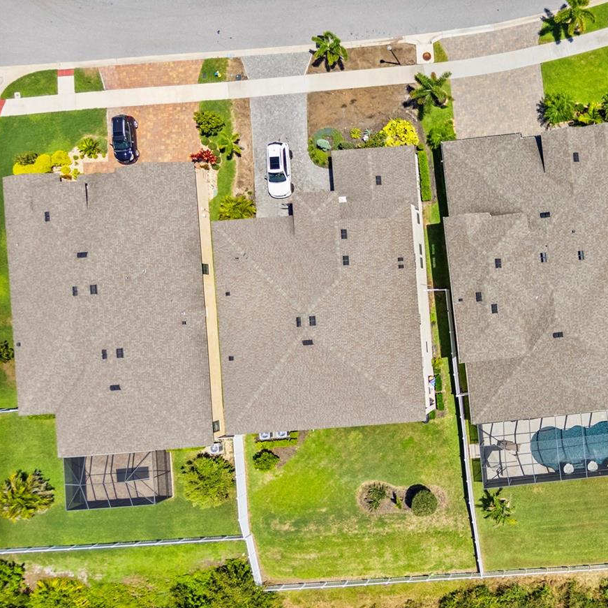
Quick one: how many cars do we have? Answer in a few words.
2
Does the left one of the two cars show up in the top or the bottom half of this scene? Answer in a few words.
top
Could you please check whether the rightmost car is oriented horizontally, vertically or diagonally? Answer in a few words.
vertically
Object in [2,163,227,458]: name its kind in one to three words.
house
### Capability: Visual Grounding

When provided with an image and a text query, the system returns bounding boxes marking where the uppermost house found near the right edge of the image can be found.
[441,127,608,425]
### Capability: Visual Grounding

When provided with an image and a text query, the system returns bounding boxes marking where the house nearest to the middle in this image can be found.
[211,145,437,438]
